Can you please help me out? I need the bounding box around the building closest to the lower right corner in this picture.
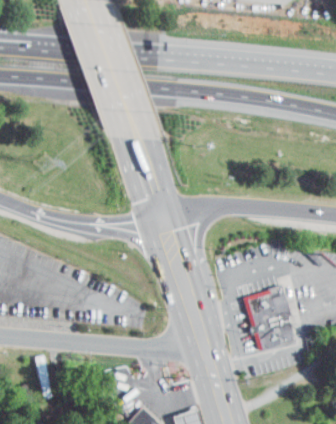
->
[243,286,296,350]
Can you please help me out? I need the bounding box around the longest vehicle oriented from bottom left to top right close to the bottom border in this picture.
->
[121,388,142,404]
